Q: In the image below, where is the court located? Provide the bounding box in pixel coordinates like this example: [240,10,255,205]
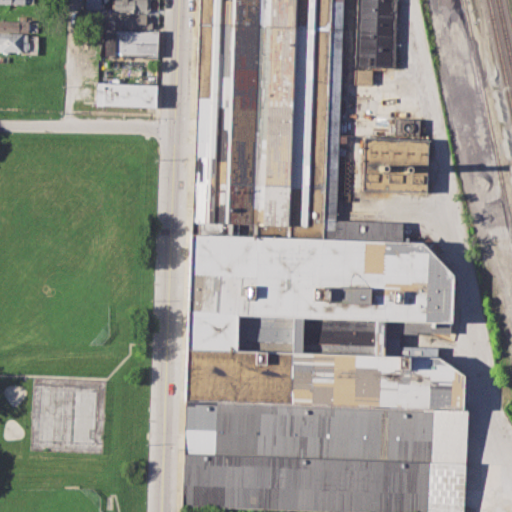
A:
[31,380,106,453]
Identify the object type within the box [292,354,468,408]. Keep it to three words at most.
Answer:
building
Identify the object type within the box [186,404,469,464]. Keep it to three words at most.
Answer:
shed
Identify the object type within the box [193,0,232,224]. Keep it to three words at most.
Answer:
shed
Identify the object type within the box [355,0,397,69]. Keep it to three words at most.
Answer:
building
